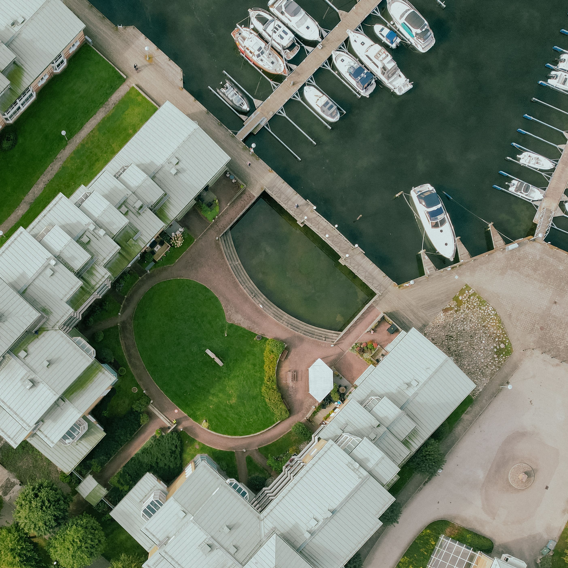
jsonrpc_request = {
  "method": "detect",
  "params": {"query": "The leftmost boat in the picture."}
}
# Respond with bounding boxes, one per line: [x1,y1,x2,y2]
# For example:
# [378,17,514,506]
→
[215,78,249,111]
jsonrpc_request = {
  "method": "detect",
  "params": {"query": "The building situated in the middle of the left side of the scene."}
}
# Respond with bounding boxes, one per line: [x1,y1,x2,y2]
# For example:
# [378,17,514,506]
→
[0,100,231,475]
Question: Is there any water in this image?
Yes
